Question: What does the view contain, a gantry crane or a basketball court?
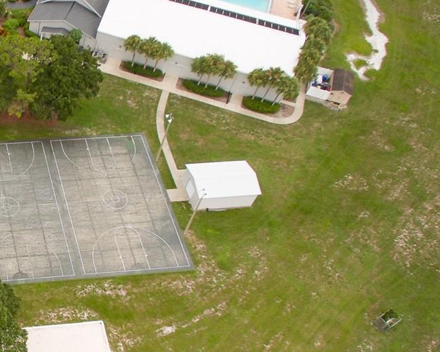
basketball court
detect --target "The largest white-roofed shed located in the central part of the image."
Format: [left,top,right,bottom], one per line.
[180,155,261,210]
